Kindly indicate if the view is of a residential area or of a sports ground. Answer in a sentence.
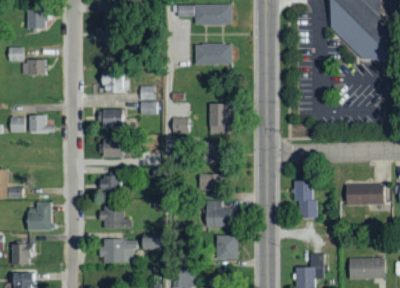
The area seen from above is a residential area.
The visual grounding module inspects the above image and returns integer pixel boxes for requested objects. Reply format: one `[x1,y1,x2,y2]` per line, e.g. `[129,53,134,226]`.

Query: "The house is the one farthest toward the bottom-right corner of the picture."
[350,258,386,282]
